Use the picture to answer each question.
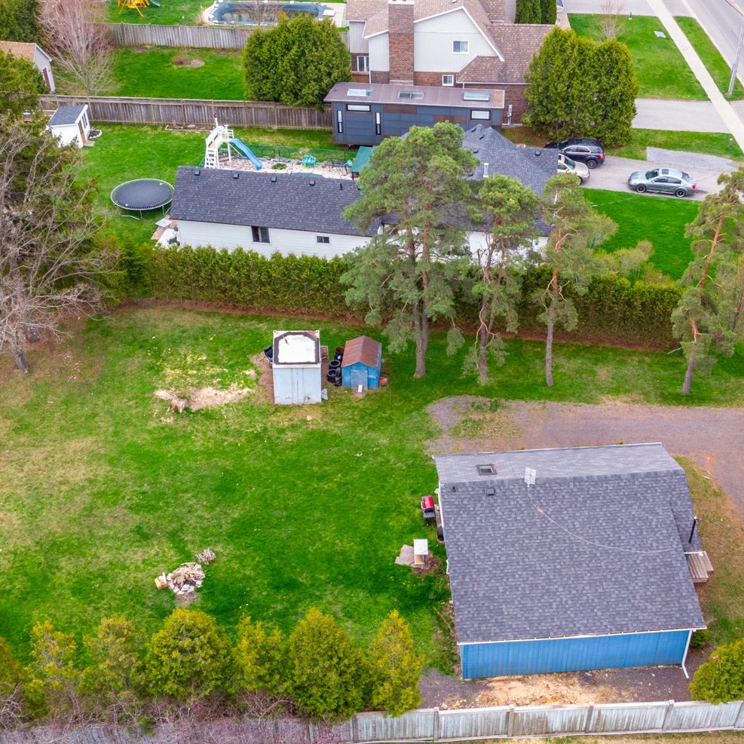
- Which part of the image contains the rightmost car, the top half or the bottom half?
top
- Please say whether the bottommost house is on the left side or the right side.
right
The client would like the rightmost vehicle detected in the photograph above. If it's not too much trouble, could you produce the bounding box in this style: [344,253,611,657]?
[623,165,696,197]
